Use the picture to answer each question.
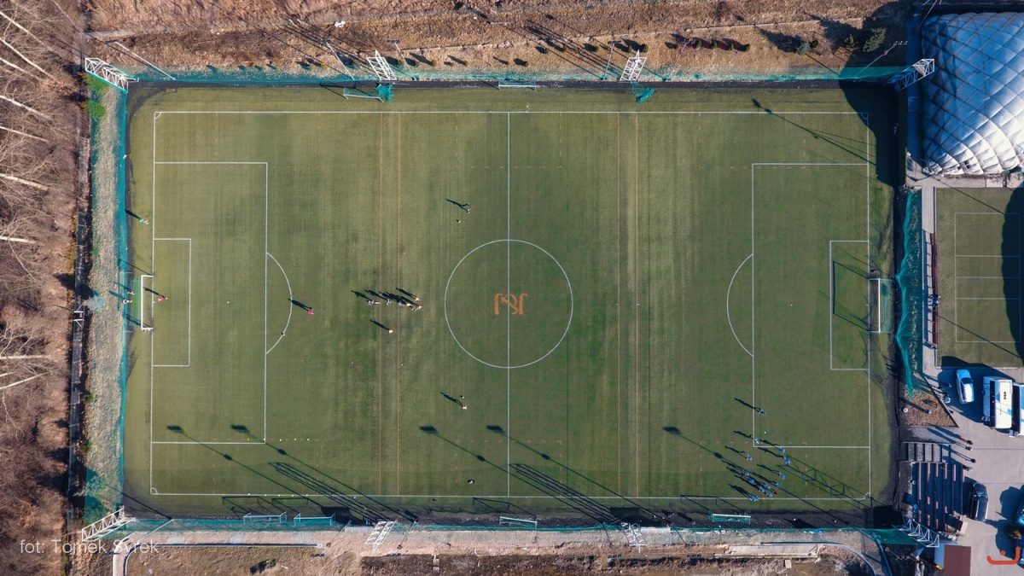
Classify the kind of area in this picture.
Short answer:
sports ground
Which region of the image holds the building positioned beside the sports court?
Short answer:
top right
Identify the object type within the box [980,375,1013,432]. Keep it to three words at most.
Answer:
vehicle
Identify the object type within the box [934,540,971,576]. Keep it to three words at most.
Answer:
shed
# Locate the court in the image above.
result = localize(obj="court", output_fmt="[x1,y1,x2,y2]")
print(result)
[937,187,1024,368]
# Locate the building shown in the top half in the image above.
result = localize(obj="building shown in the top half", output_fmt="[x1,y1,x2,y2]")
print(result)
[921,11,1024,177]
